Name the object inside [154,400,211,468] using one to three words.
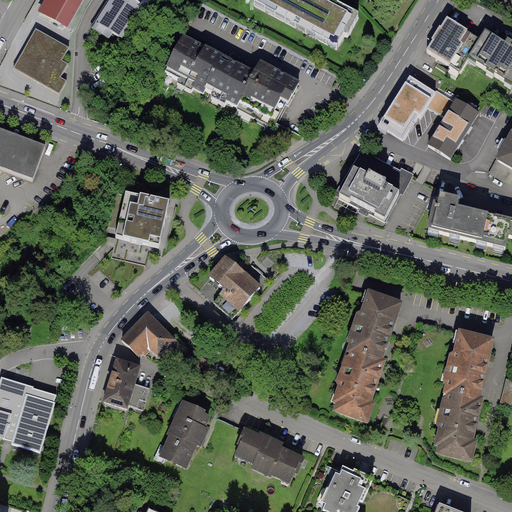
house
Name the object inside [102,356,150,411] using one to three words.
house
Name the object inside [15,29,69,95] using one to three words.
building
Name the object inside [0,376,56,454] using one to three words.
building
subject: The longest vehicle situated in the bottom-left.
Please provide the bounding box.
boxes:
[88,356,102,390]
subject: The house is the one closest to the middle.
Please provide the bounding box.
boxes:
[209,256,257,313]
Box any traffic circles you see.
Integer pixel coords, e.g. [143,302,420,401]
[203,166,304,246]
